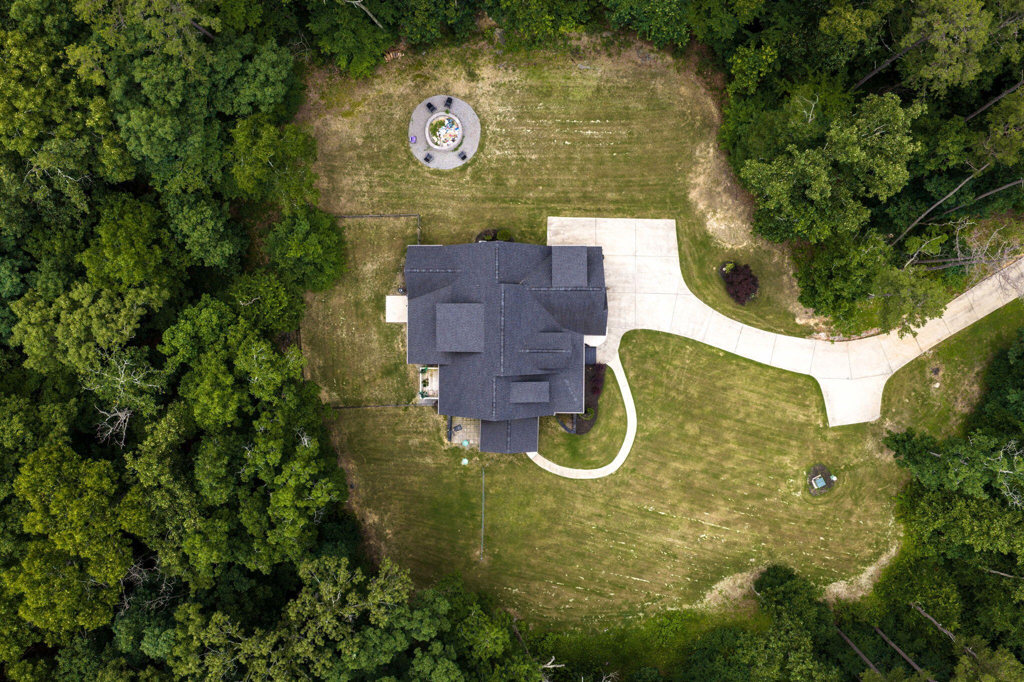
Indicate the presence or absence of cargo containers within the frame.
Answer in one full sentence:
No, no cargo container is visible in the scene.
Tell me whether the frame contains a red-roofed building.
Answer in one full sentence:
No, no red-roofed building is visible in the view.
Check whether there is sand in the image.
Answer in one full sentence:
No, no sand is visible.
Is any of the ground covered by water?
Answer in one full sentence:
No, the picture contains no water.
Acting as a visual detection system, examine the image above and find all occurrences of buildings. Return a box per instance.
[404,241,608,453]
